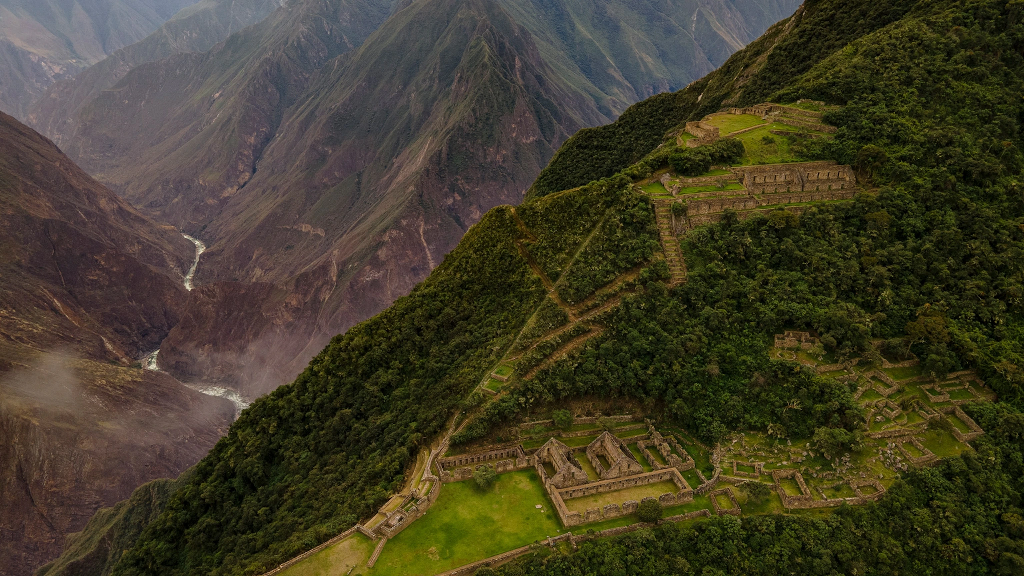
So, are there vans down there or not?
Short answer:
No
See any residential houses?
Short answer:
Yes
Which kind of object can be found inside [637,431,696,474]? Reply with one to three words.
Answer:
house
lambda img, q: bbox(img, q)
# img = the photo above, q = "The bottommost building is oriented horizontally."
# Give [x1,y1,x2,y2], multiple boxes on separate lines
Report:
[551,464,693,528]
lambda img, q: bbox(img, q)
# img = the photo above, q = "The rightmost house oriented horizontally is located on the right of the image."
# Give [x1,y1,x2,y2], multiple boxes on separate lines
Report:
[772,331,816,352]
